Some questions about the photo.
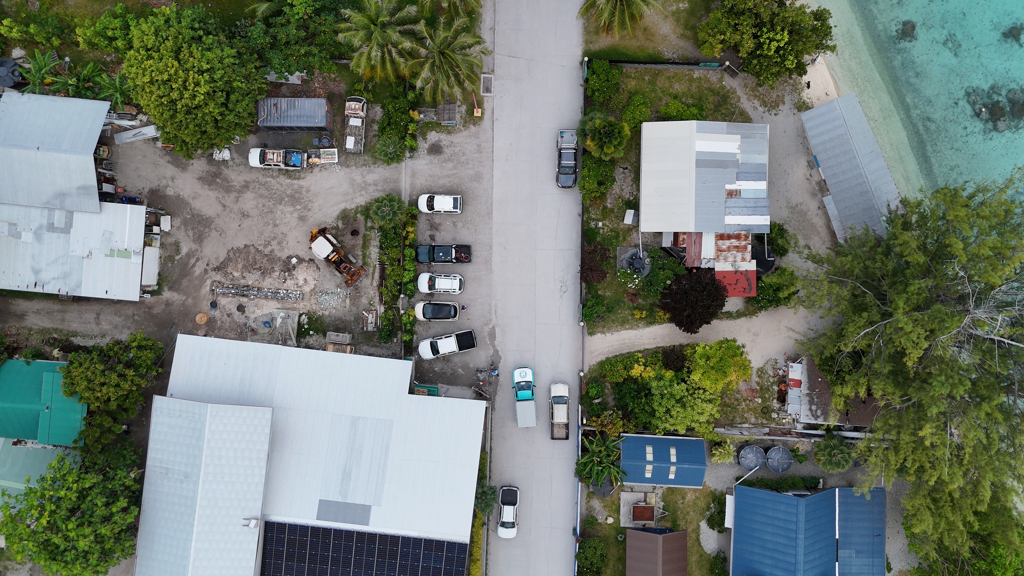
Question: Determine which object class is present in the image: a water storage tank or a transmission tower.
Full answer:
Of the two, only a water storage tank appears.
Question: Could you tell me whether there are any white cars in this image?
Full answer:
Yes, I can see a white car in this picture.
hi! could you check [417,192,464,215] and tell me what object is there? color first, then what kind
white car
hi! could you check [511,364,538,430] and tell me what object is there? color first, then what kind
white truck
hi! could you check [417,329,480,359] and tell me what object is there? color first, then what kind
white truck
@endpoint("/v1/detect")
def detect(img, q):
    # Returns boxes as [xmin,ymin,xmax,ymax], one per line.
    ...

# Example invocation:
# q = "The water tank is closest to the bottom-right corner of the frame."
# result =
[759,442,792,472]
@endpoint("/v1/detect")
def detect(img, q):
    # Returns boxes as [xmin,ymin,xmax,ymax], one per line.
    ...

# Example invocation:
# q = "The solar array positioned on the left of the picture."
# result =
[261,525,468,576]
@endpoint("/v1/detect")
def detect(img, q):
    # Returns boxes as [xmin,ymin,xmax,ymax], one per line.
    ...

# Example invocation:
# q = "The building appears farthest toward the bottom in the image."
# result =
[626,529,687,576]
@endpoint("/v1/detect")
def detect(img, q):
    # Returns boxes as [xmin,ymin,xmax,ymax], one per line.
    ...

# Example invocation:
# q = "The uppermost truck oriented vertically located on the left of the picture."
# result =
[341,96,367,154]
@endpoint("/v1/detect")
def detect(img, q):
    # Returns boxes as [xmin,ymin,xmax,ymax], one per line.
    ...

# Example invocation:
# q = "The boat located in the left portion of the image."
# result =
[94,145,113,159]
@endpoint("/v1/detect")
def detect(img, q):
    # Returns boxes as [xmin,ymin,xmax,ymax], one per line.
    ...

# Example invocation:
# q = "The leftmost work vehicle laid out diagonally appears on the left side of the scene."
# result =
[306,231,374,294]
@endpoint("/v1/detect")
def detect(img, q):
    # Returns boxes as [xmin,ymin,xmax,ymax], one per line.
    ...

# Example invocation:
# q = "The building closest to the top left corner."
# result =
[0,93,110,214]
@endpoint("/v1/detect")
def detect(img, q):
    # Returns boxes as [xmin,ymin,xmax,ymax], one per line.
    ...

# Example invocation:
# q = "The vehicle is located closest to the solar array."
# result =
[495,480,520,539]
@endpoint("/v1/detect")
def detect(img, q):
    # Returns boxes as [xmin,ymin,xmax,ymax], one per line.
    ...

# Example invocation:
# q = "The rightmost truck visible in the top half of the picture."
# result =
[554,130,578,193]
